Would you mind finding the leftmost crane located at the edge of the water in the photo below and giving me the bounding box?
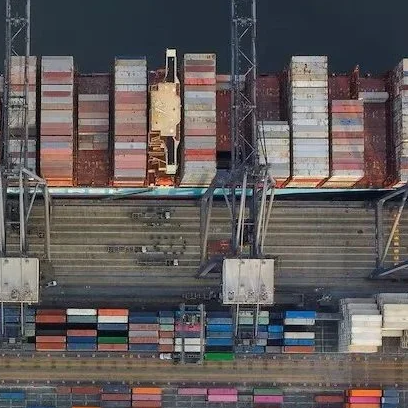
[0,0,59,340]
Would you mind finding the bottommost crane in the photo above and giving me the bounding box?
[169,304,205,363]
